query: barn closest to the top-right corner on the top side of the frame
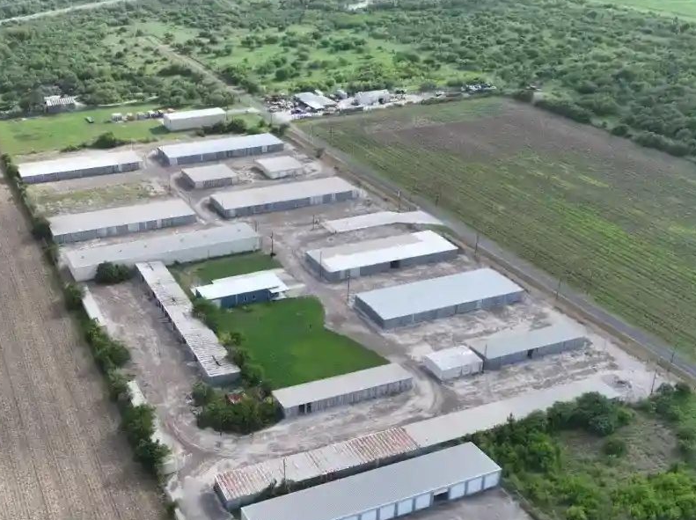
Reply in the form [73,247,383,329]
[349,89,391,103]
